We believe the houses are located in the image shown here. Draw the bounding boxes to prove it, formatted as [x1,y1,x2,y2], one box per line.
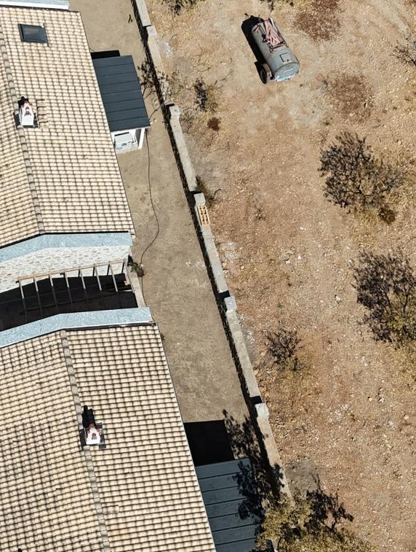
[0,310,219,552]
[0,0,136,296]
